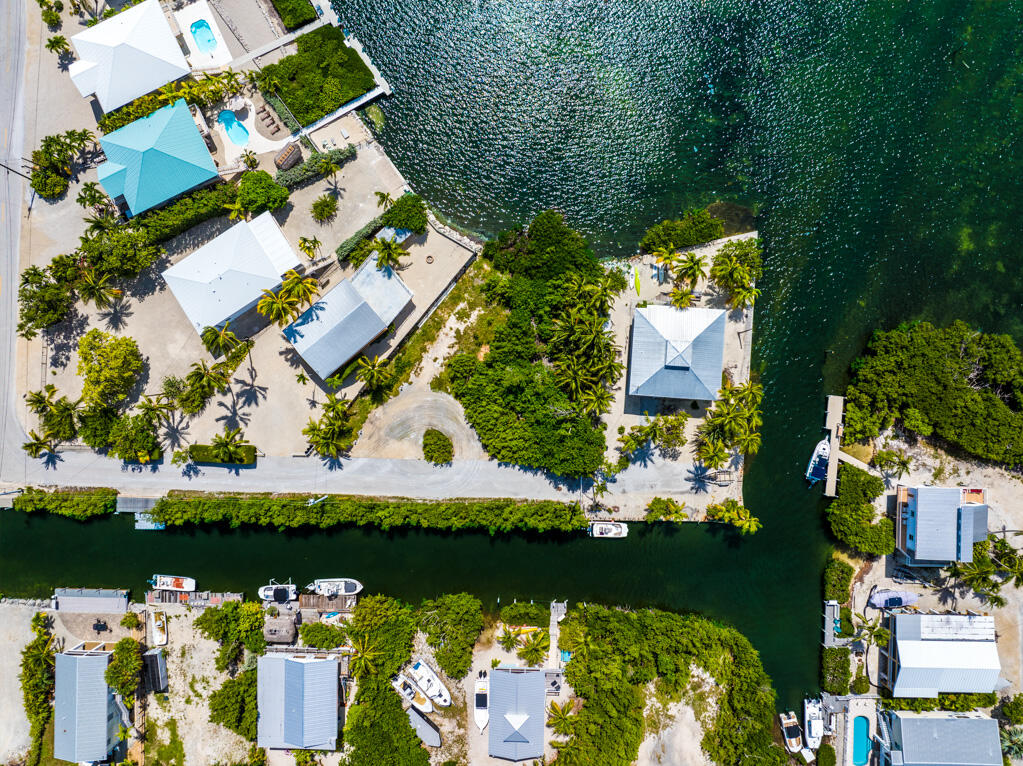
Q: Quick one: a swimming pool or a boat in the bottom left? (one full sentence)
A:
Visible in the bottom left is a boat.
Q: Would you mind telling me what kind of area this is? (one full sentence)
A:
What you see here is a residential area.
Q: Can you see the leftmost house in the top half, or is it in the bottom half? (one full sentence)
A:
The bottom half of the photo is where the leftmost house is.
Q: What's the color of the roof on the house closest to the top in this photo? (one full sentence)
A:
The color of the roof on the house closest to the top is white.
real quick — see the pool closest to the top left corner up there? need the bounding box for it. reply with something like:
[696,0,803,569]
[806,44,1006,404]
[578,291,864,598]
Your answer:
[171,0,233,66]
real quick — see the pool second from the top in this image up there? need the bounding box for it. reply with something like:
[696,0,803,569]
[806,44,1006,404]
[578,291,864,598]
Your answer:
[206,96,290,167]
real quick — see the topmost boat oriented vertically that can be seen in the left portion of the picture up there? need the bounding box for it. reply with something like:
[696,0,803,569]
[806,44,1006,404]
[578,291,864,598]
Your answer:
[148,611,165,647]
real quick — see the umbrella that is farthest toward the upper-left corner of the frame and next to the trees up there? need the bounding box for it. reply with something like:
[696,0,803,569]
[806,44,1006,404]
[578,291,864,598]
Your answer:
[230,97,247,114]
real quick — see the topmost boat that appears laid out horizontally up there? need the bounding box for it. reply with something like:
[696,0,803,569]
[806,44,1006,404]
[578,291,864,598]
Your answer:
[583,521,628,538]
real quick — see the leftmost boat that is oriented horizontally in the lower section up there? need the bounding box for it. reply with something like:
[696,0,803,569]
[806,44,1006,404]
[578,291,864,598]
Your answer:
[148,573,196,590]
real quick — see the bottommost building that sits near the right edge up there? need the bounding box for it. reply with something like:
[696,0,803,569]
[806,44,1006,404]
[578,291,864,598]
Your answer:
[871,705,1004,766]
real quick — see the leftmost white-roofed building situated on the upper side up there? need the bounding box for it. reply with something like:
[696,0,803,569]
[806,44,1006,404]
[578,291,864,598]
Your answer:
[69,0,216,120]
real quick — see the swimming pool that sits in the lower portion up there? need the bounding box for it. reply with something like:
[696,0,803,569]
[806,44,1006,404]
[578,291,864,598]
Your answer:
[847,700,878,766]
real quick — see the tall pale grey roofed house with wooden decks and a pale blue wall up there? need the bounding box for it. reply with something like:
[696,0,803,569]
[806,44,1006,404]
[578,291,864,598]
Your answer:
[886,483,990,568]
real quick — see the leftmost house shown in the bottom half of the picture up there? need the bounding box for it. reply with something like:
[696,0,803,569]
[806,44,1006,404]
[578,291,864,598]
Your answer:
[55,632,137,762]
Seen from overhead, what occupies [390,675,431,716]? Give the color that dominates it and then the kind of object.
white boat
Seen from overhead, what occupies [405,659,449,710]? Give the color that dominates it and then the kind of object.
white boat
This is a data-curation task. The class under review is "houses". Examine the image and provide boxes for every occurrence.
[282,251,414,380]
[871,705,1004,766]
[161,213,305,336]
[255,648,353,750]
[886,483,990,568]
[866,608,1002,698]
[69,0,216,120]
[97,98,247,216]
[489,660,561,762]
[55,632,137,762]
[628,309,727,400]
